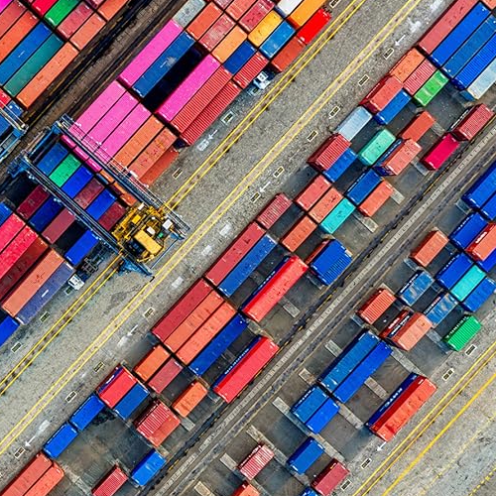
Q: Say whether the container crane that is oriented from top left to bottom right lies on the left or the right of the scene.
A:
left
